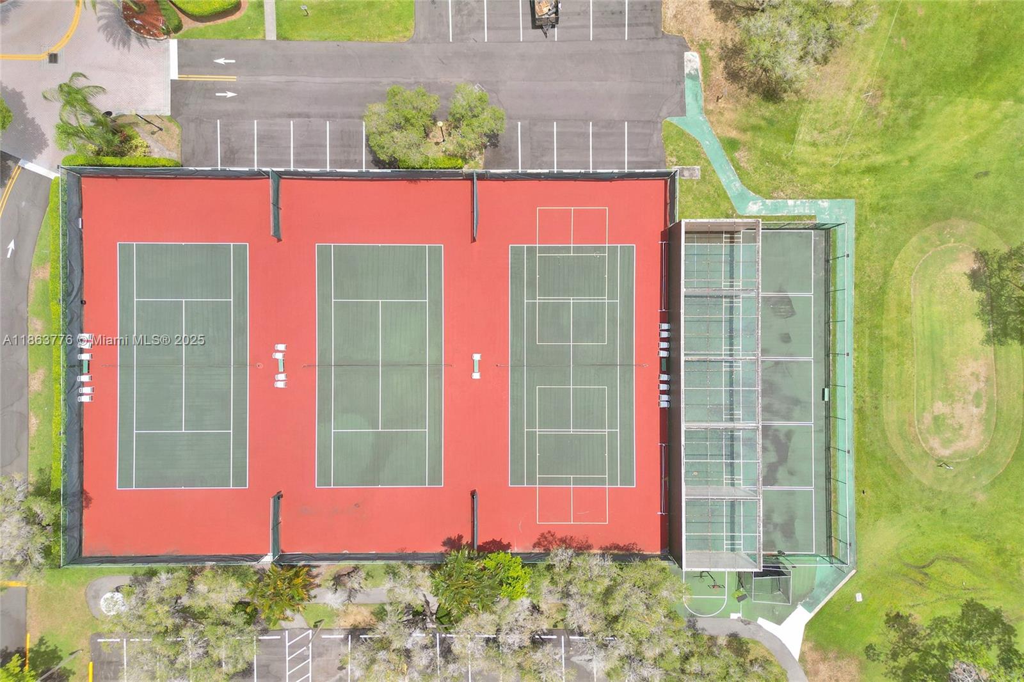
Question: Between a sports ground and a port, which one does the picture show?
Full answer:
What you see here is a sports ground.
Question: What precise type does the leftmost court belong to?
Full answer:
What you see as the leftmost court is a tennis court.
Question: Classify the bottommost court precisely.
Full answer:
The bottommost court can be classified as a basketball court.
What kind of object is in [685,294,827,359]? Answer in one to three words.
sports court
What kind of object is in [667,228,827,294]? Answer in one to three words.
sports court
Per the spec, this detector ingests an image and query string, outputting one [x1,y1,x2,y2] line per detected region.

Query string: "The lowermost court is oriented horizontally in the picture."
[668,555,827,625]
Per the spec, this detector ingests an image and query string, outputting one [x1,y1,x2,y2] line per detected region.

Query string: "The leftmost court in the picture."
[85,179,279,554]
